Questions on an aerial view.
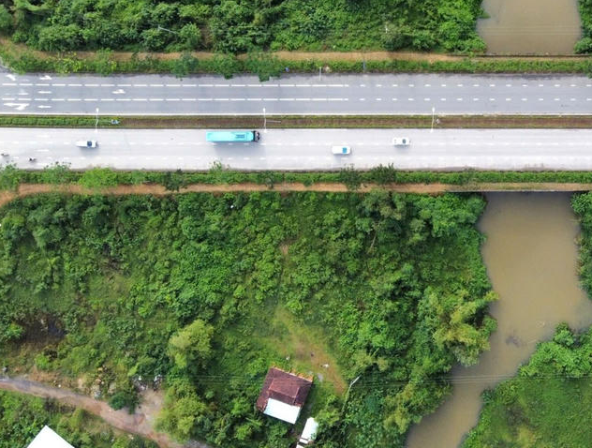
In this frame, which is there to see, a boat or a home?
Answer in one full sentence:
The image shows a home.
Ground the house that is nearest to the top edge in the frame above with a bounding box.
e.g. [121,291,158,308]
[259,366,314,421]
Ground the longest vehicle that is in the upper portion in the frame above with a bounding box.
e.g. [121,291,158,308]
[202,131,262,144]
